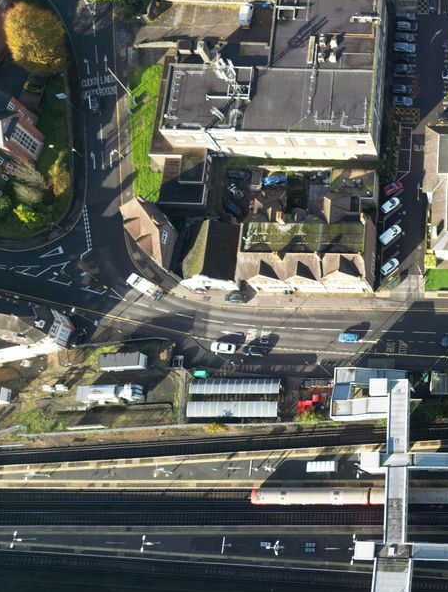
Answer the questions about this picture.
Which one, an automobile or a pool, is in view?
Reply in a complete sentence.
This aerial view contains an automobile.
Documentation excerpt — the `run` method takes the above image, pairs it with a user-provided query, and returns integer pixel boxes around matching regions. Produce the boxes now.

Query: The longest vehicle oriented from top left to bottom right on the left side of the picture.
[125,271,166,301]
